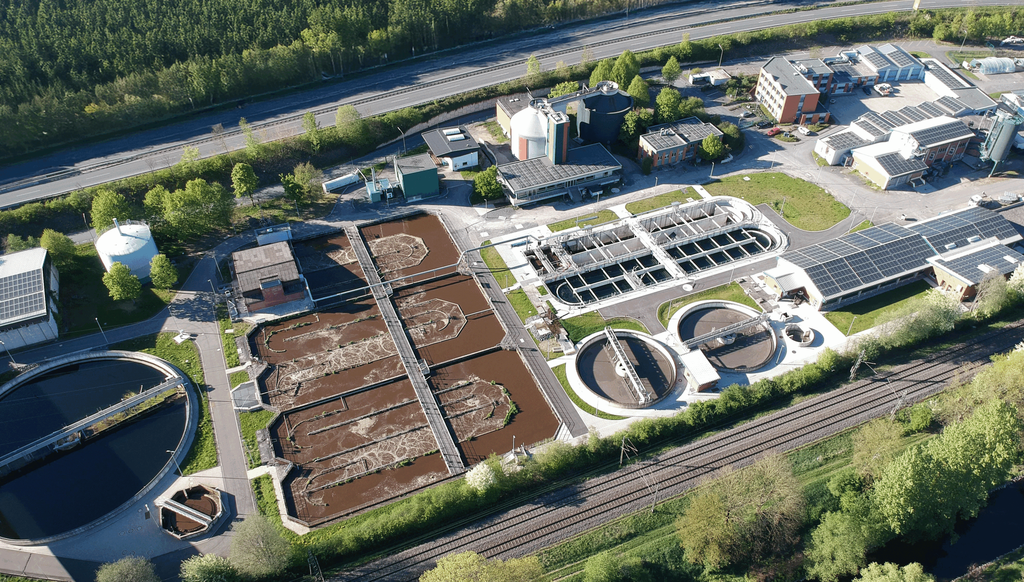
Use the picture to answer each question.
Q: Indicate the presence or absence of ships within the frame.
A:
No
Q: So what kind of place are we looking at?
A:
industrial area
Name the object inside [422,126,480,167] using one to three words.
building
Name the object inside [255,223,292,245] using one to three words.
building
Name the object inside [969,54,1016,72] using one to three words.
greenhouse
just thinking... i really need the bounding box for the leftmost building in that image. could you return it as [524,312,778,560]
[0,250,56,350]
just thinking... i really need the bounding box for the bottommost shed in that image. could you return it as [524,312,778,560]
[678,349,721,394]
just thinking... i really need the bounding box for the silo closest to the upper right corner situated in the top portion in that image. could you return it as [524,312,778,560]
[978,111,1024,180]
